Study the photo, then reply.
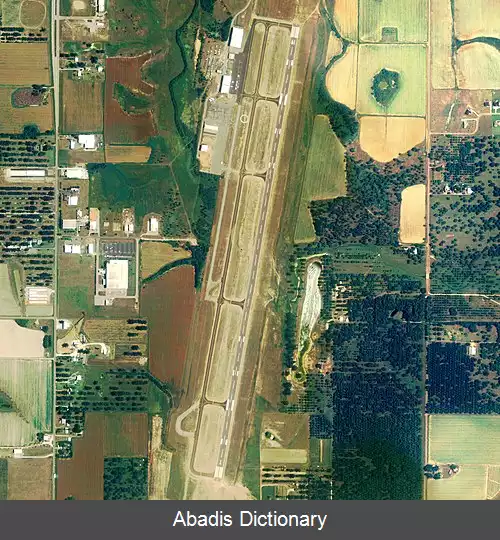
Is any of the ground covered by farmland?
Yes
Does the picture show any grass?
Yes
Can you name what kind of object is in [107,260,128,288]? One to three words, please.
building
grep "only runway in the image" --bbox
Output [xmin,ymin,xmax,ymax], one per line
[214,22,300,482]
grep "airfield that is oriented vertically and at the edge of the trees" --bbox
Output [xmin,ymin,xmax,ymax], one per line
[173,12,304,540]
